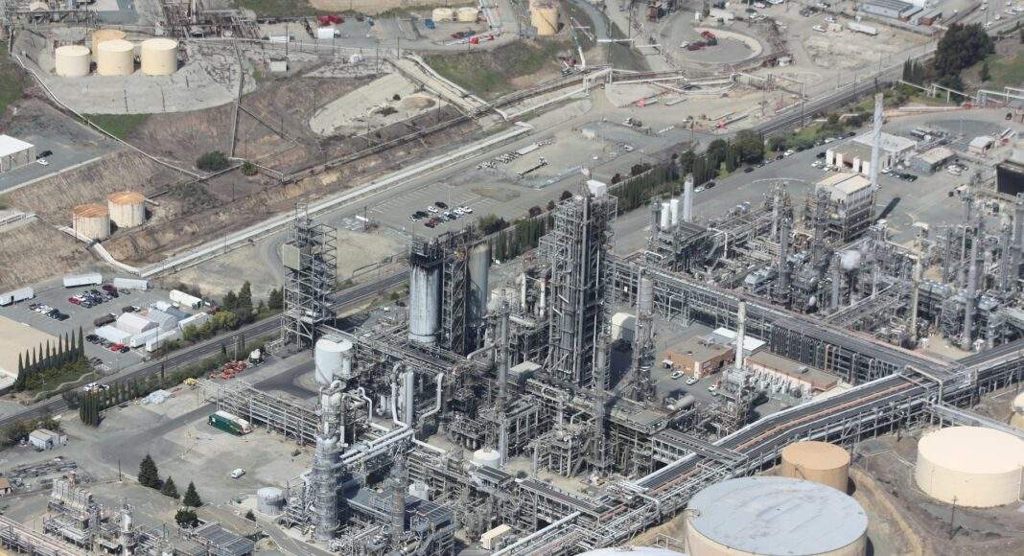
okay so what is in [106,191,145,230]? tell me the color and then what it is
white storage tank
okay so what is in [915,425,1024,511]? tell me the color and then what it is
white storage tank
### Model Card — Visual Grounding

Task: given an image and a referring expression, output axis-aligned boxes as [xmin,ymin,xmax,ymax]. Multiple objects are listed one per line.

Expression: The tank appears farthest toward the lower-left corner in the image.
[253,486,285,517]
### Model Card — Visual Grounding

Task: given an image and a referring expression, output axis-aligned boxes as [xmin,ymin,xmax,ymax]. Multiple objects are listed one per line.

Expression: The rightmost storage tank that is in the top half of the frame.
[528,0,560,38]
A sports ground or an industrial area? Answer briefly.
industrial area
